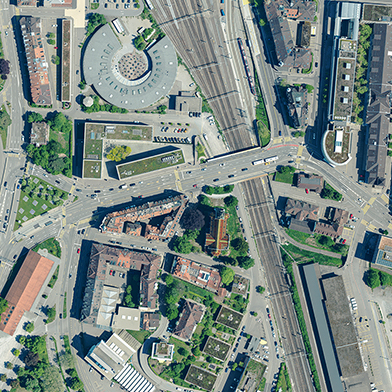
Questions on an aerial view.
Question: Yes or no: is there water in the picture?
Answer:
No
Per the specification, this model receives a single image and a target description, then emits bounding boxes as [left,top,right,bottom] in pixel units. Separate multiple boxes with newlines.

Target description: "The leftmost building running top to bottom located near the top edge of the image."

[21,15,52,105]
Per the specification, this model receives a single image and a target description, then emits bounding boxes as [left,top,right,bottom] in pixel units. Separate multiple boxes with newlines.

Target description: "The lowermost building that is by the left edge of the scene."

[0,251,53,337]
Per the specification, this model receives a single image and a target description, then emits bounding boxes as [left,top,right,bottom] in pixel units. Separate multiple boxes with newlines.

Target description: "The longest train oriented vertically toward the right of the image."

[238,36,255,94]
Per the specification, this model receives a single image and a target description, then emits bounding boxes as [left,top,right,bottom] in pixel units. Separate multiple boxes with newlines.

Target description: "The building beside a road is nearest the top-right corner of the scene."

[362,4,392,23]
